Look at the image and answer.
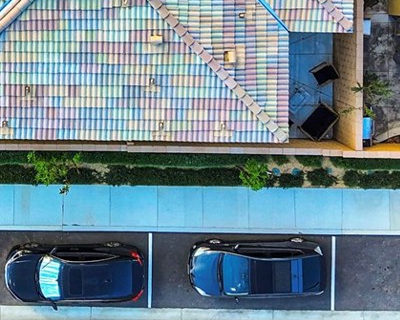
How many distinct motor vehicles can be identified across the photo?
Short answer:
2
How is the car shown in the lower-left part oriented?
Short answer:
from side to side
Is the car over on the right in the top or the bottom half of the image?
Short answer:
bottom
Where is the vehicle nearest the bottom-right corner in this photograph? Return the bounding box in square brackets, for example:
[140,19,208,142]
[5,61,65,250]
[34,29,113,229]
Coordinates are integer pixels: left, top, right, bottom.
[187,238,326,308]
